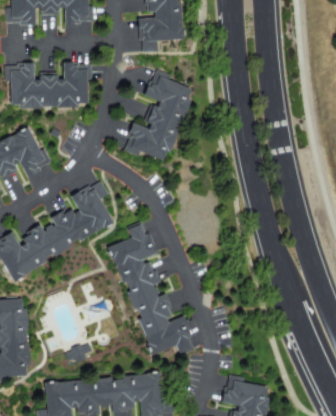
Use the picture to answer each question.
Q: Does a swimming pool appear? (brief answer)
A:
Yes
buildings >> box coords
[0,298,31,376]
[6,0,89,22]
[0,126,53,178]
[139,0,184,48]
[112,231,195,352]
[126,68,193,160]
[222,374,268,416]
[0,184,112,279]
[4,62,92,106]
[67,339,91,359]
[41,376,170,416]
